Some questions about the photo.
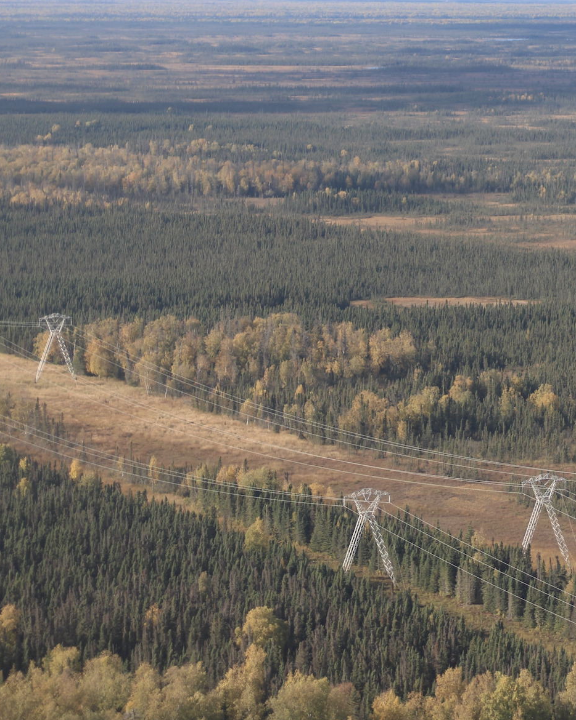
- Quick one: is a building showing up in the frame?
No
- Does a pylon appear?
Yes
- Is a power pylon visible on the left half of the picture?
Yes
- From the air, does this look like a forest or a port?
forest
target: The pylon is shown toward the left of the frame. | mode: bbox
[37,313,77,382]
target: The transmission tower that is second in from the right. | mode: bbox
[335,485,406,585]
